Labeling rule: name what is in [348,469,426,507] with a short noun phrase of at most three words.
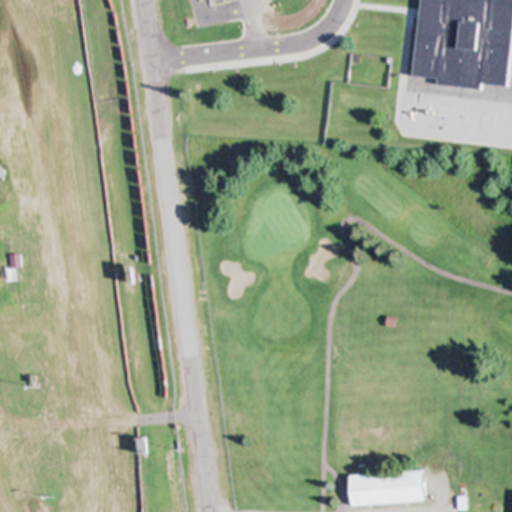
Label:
building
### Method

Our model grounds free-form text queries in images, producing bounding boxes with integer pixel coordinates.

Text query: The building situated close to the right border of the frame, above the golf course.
[411,0,512,89]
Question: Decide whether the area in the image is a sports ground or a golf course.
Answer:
golf course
